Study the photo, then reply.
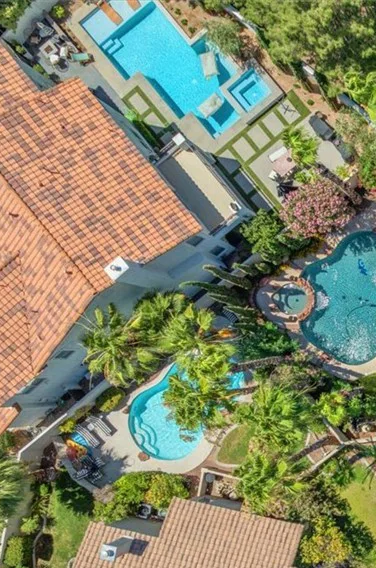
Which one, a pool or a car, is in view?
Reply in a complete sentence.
The one in the frame is a pool.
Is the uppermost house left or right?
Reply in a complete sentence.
The uppermost house is on the left side of the image.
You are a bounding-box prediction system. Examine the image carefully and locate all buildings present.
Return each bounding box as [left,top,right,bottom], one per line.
[69,496,306,568]
[0,42,256,440]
